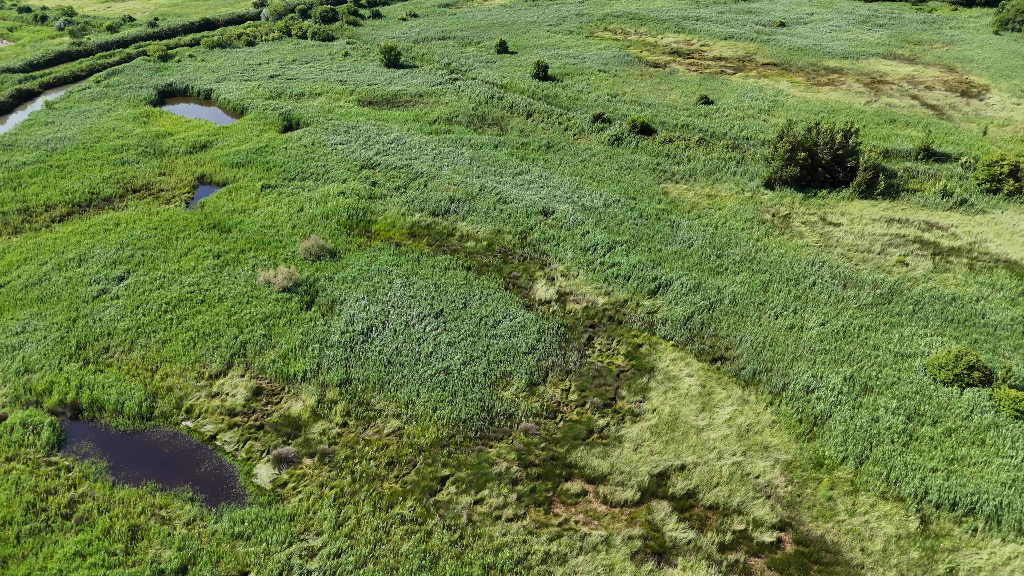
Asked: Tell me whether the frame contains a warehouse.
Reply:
No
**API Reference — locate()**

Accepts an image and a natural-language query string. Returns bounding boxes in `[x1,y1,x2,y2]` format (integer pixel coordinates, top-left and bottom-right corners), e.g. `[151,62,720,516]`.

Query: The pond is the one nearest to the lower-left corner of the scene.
[59,419,253,514]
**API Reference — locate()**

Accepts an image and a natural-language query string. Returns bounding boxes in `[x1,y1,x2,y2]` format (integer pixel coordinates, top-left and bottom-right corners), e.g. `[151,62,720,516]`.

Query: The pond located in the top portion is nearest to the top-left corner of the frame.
[160,96,243,132]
